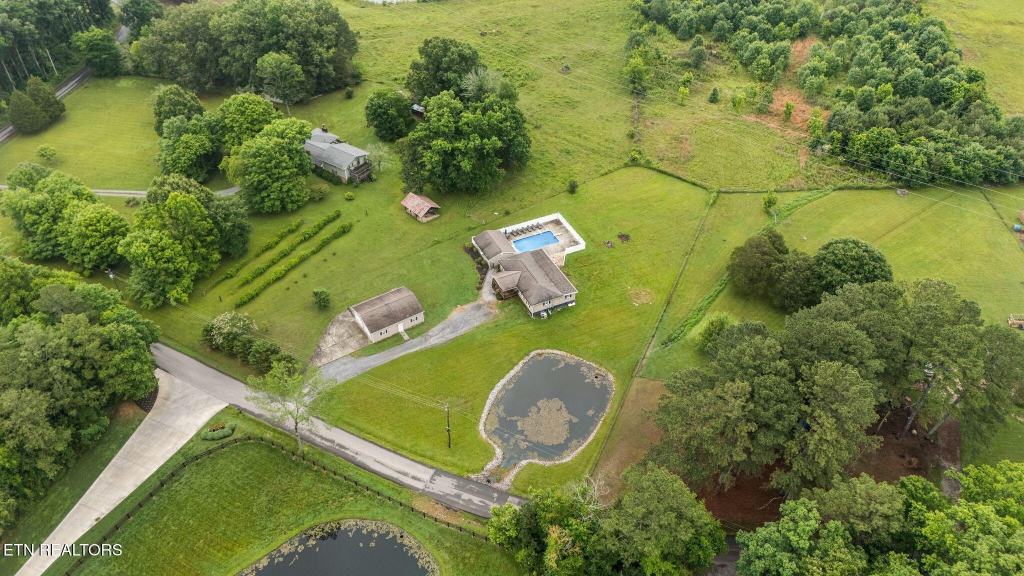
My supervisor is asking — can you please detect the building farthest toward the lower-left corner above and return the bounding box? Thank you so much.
[350,286,425,343]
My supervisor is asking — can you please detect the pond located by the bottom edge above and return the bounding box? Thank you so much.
[245,521,438,576]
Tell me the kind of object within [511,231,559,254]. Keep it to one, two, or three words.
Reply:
swimming pool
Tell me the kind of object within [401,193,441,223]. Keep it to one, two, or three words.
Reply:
building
